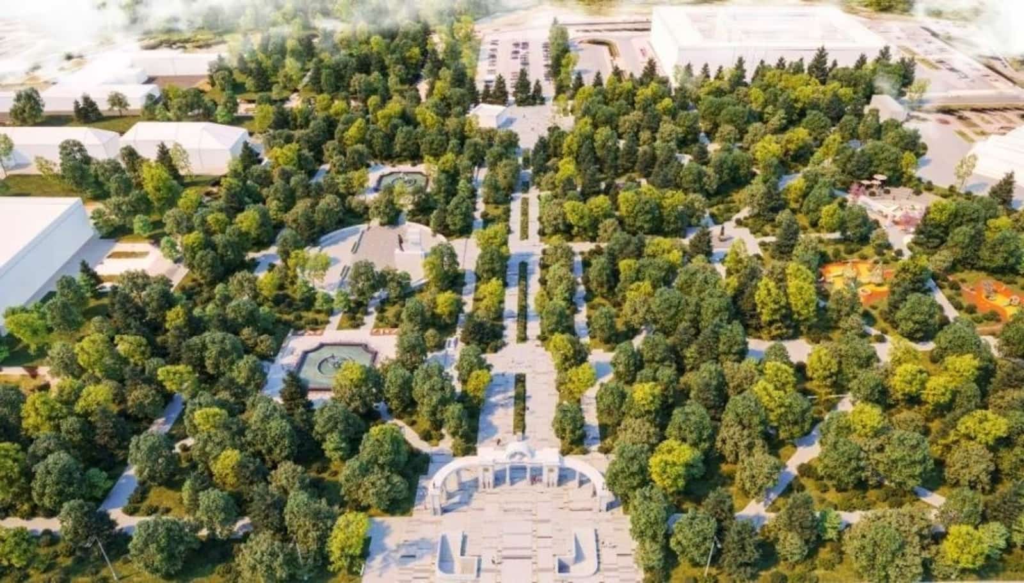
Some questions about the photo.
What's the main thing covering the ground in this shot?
trees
